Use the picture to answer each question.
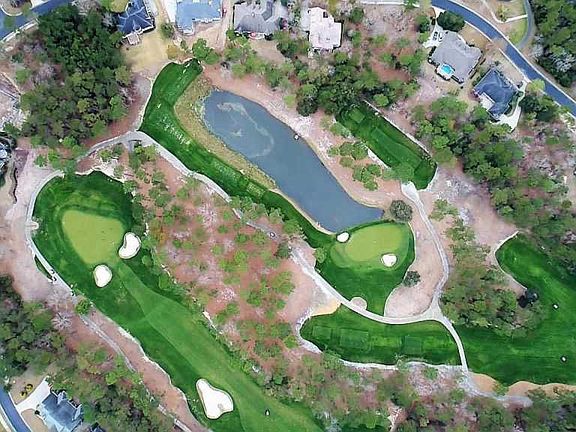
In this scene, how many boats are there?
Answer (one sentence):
The count of boats is 0.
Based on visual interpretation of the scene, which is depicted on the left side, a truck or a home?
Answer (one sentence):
There is a home on the left side.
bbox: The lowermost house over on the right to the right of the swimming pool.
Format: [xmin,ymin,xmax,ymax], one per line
[471,69,518,118]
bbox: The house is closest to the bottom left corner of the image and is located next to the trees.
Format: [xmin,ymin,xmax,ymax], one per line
[35,393,84,432]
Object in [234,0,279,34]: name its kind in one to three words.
house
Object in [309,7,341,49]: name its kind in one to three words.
house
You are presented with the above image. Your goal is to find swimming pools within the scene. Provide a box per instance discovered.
[436,63,453,79]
